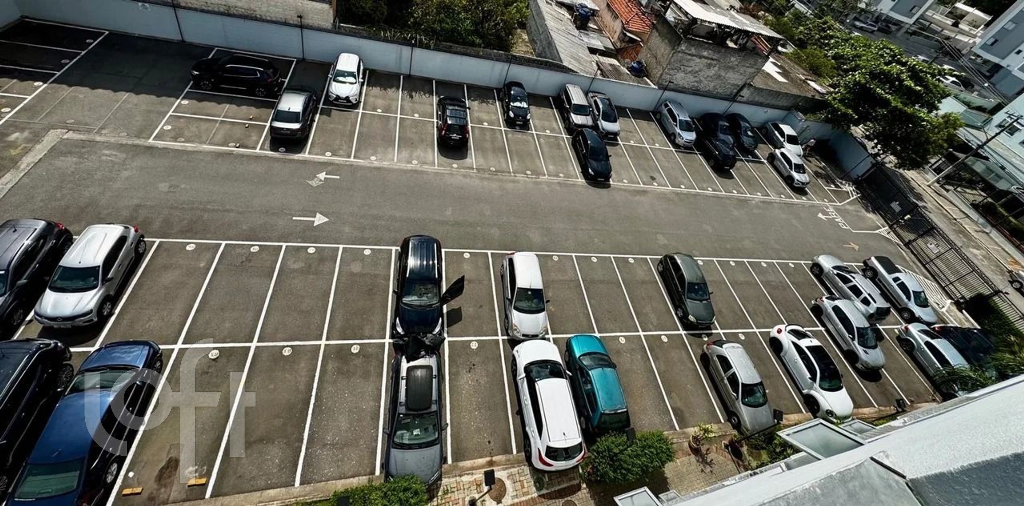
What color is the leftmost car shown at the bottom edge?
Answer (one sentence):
From above, the leftmost car shown at the bottom edge appears black.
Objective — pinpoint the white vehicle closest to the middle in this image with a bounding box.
[501,255,549,340]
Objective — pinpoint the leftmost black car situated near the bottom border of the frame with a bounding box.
[0,339,71,498]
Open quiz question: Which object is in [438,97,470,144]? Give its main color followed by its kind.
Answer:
black car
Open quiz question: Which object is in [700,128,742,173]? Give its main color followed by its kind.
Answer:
black car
